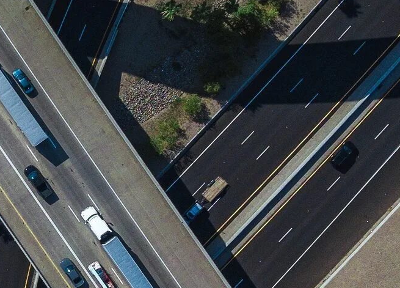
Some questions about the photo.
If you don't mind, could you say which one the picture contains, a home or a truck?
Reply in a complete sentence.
I can see a truck in this picture.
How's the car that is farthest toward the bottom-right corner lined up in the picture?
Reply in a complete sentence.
In this picture, the car that is farthest toward the bottom-right corner lies at an angle.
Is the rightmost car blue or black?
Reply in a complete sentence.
From above, the rightmost car appears black.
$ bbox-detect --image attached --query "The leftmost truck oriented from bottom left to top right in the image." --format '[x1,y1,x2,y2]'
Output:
[182,197,210,226]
